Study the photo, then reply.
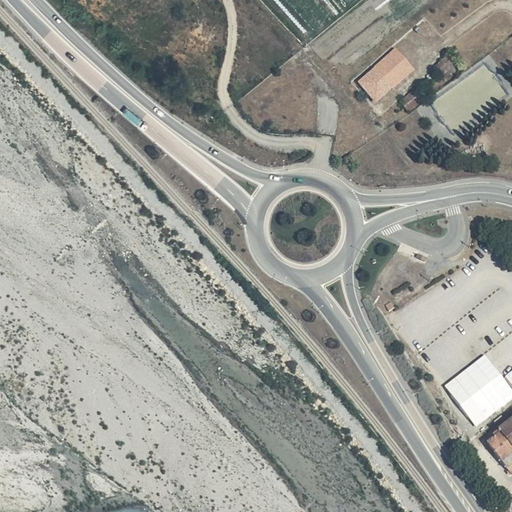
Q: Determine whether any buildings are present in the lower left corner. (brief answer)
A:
No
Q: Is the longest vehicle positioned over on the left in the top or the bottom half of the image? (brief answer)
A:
top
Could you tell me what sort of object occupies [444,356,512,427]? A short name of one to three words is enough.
building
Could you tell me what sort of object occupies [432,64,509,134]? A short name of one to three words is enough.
sports court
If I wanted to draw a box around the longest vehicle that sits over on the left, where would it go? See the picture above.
[122,108,145,128]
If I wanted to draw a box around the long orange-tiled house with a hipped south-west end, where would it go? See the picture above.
[358,48,416,102]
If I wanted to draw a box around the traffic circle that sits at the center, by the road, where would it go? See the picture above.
[244,167,366,288]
